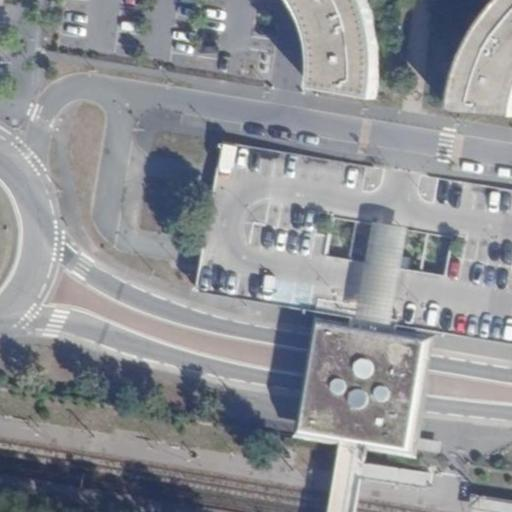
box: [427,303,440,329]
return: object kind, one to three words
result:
vehicle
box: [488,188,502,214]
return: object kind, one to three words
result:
vehicle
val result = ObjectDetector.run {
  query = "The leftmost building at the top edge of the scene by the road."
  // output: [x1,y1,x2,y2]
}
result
[282,0,379,105]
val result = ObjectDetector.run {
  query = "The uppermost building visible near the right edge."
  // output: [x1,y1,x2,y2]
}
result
[444,0,512,123]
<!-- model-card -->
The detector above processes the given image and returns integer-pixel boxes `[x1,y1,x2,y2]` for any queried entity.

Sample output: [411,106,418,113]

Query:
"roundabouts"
[0,132,64,339]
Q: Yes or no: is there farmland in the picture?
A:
No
